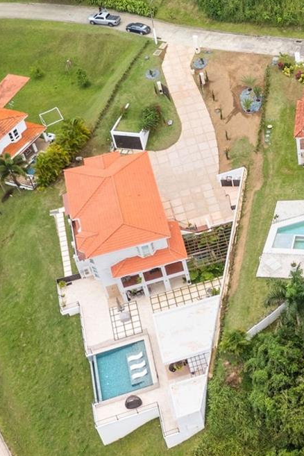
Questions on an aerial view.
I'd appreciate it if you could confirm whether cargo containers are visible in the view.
No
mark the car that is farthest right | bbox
[124,21,150,34]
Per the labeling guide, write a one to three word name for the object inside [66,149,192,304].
house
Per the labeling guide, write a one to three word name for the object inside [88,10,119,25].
vehicle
